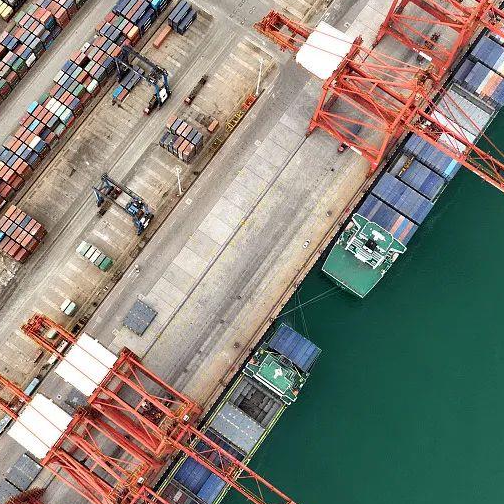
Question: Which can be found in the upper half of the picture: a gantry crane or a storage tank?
gantry crane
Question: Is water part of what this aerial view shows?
Yes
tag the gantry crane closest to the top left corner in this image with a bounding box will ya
[112,45,172,109]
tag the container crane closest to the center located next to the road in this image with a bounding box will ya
[91,175,154,236]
